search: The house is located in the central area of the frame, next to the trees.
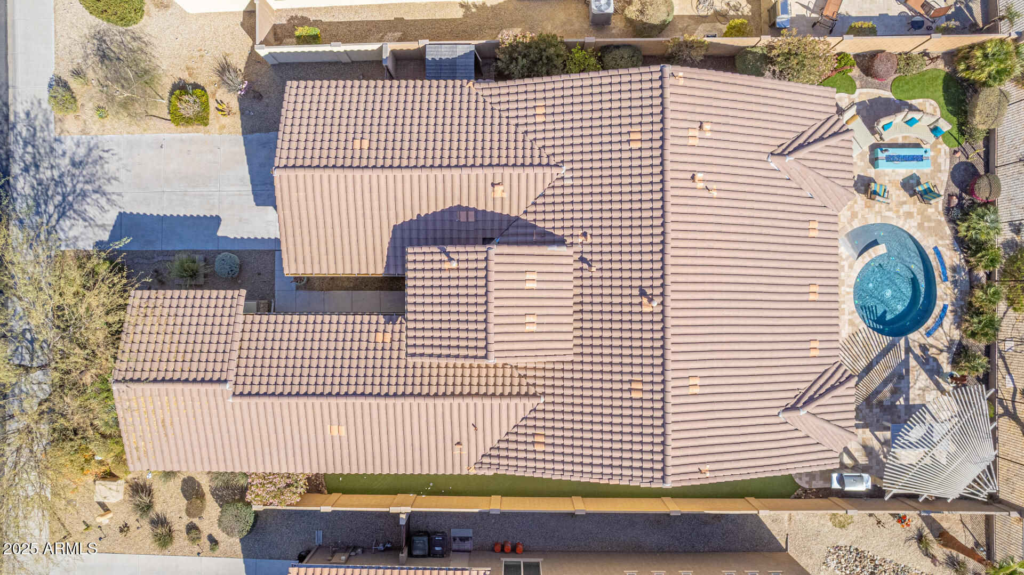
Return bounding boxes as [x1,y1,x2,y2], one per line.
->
[109,60,859,491]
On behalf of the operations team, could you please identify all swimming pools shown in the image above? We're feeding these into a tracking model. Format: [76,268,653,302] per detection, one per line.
[839,213,948,347]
